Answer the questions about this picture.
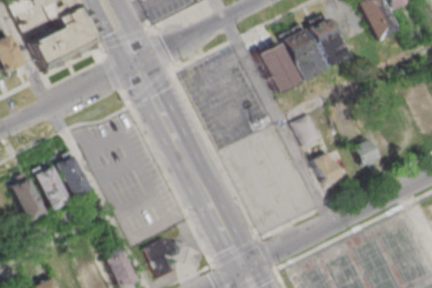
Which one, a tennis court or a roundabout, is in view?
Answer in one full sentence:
The image shows a tennis court.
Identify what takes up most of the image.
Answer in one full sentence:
The bulk of the photo consists of paved ground.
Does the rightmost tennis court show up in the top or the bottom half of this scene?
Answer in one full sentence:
Seen from above, the rightmost tennis court lies in the bottom half of the view.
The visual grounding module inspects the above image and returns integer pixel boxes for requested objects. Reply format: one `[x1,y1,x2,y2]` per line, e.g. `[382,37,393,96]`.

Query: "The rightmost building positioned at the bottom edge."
[142,239,179,278]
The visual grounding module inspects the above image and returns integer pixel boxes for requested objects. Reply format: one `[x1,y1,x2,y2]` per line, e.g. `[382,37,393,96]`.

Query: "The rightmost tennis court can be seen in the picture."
[384,226,427,282]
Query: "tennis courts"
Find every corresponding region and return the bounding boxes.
[384,226,427,282]
[327,254,365,288]
[356,240,400,288]
[299,267,329,288]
